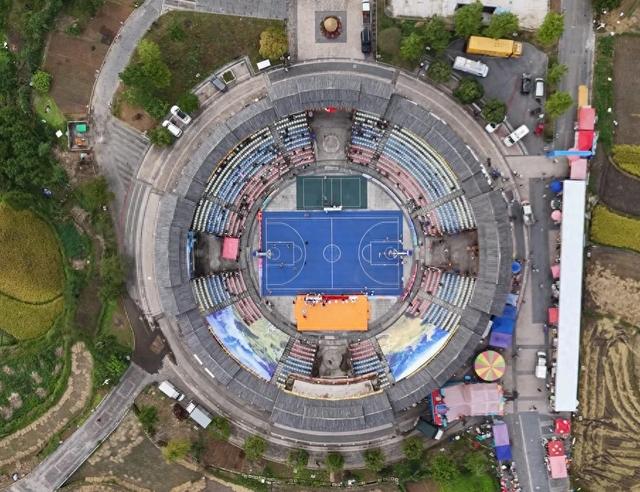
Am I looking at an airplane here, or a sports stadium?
sports stadium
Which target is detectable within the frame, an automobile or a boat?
automobile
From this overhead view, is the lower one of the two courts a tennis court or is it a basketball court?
basketball court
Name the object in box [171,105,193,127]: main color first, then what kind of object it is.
white car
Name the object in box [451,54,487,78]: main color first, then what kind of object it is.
white vehicle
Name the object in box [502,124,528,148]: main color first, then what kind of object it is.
white vehicle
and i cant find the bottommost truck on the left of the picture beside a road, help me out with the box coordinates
[186,399,216,430]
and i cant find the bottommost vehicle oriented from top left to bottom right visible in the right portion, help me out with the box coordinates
[412,414,442,441]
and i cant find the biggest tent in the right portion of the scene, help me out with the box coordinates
[469,346,506,381]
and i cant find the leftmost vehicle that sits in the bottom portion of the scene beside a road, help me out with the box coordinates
[155,376,189,403]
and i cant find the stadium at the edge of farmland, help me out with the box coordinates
[154,73,513,434]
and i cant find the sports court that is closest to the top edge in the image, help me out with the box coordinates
[298,176,368,209]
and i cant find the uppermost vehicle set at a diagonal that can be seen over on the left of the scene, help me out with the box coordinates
[211,75,231,96]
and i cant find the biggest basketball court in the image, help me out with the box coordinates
[261,211,403,298]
